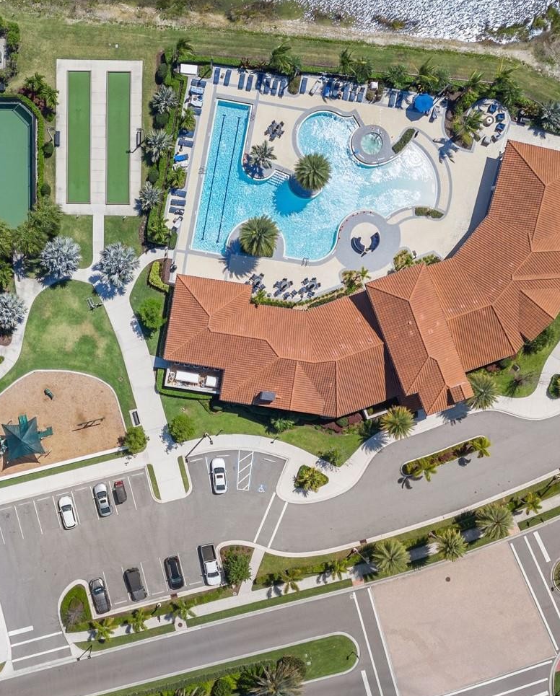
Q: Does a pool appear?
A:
Yes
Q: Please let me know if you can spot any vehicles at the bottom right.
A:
No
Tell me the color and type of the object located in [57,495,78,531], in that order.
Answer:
white car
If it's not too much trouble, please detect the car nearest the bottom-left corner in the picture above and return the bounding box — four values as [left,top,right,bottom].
[90,577,109,614]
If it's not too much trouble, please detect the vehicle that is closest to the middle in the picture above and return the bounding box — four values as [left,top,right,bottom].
[210,457,226,494]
